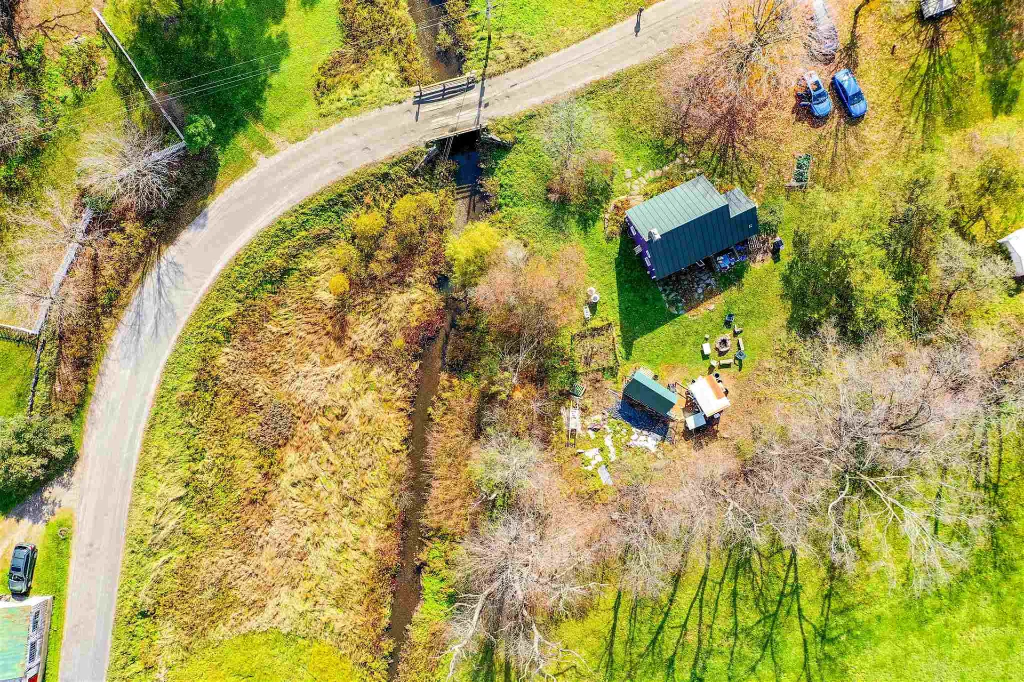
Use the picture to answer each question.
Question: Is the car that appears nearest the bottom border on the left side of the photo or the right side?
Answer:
left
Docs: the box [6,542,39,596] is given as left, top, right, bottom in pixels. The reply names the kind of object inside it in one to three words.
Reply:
car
